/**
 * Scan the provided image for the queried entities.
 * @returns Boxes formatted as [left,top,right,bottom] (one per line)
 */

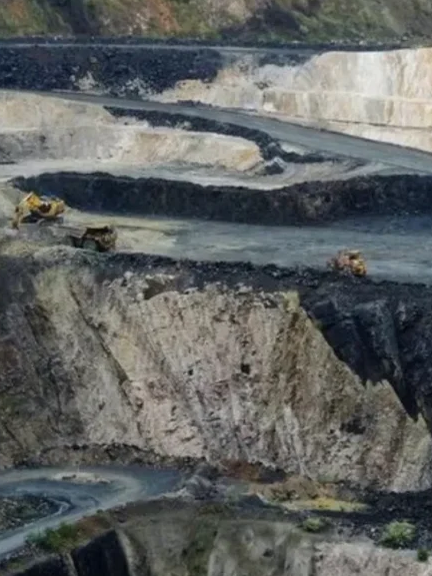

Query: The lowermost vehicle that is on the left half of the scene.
[68,223,116,255]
